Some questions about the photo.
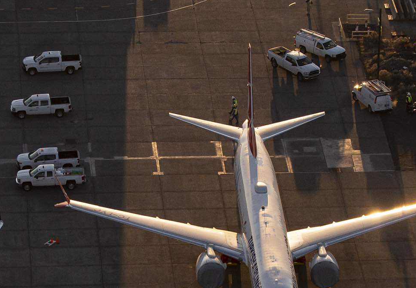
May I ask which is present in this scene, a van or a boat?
van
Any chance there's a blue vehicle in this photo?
No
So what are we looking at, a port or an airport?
airport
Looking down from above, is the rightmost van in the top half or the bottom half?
top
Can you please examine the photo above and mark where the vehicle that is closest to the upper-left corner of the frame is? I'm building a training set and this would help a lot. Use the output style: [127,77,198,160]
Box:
[21,51,83,75]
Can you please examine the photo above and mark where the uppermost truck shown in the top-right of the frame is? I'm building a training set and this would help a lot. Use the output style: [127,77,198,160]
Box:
[290,25,352,63]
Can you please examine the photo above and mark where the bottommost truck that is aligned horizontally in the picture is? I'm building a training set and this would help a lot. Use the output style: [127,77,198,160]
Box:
[16,161,86,188]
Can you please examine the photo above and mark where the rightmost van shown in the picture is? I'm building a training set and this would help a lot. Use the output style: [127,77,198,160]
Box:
[349,80,395,114]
